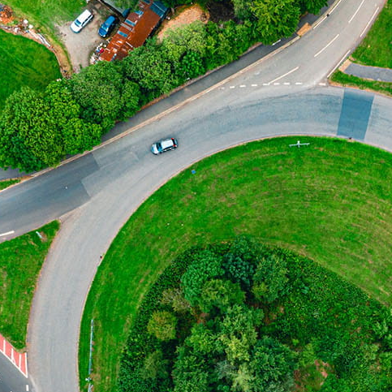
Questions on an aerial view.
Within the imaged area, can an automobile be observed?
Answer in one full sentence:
Yes, you can see an automobile in this photo.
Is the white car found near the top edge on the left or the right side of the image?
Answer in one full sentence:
It is on the left.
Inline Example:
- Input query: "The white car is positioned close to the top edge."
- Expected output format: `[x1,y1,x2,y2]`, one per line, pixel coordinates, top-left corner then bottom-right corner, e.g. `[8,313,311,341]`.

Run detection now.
[72,8,93,32]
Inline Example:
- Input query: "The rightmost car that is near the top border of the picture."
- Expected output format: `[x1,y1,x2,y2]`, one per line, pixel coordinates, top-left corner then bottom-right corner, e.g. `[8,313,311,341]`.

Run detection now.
[98,13,117,38]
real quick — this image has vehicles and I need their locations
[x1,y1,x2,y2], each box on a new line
[72,8,93,32]
[98,13,117,38]
[151,137,179,154]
